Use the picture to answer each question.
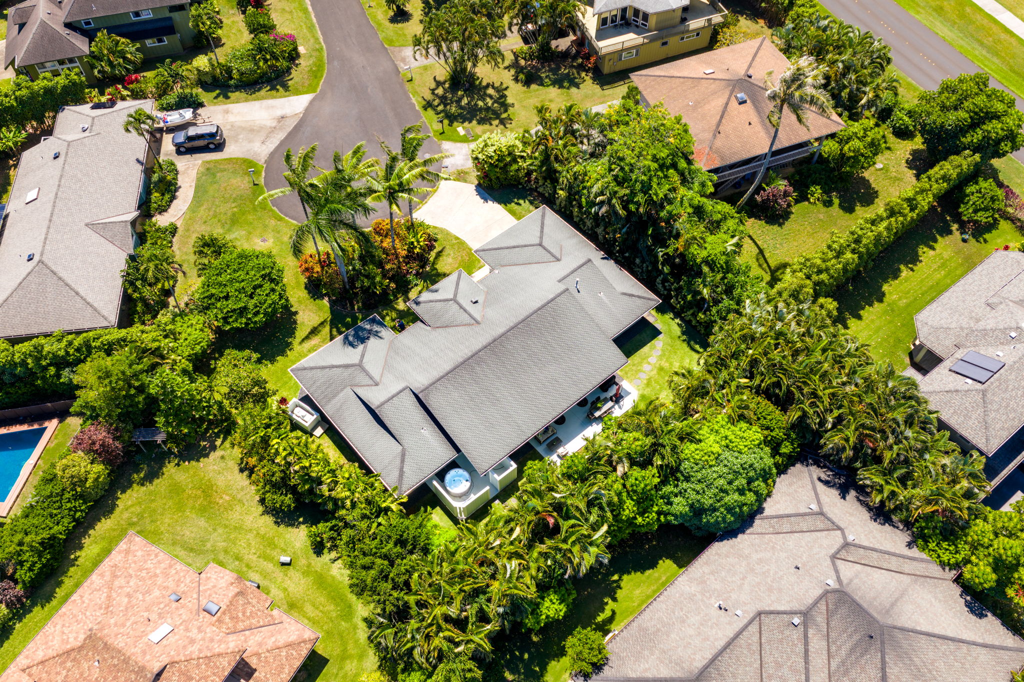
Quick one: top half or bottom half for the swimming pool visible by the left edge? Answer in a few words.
bottom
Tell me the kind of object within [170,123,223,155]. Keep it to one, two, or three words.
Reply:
car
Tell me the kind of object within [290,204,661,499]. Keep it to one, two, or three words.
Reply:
house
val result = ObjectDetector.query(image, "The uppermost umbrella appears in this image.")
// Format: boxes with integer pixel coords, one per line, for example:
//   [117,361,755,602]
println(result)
[615,384,628,411]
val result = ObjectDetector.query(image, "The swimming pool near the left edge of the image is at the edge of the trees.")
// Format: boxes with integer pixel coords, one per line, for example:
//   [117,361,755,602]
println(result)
[0,414,64,517]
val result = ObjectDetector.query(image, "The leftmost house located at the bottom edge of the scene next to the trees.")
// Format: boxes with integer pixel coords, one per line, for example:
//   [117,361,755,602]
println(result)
[0,531,322,682]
